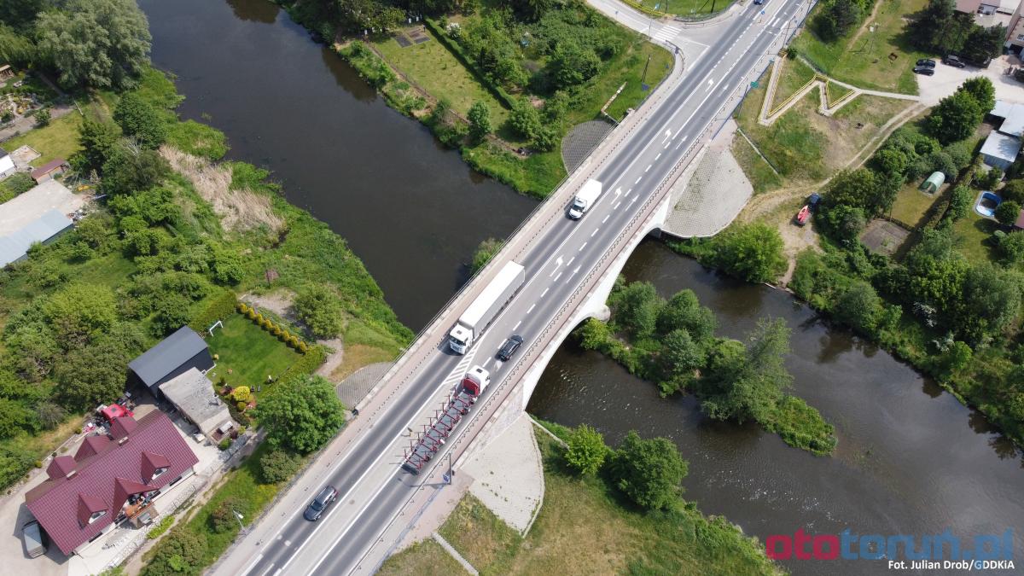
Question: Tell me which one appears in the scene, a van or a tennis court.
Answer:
van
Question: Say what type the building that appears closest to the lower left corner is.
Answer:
home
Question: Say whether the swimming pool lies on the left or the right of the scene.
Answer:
right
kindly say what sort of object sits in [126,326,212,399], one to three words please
shed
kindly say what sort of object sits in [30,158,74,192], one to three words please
shed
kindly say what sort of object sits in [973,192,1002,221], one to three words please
swimming pool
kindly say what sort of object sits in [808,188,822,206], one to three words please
car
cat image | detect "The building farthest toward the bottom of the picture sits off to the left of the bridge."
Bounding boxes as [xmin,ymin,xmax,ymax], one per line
[27,409,200,558]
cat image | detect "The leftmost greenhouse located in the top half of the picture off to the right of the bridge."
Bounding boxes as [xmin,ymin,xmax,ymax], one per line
[919,170,944,197]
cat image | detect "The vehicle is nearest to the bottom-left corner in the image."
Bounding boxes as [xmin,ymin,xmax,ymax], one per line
[17,519,46,560]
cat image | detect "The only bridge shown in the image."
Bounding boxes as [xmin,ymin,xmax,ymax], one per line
[345,105,716,479]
